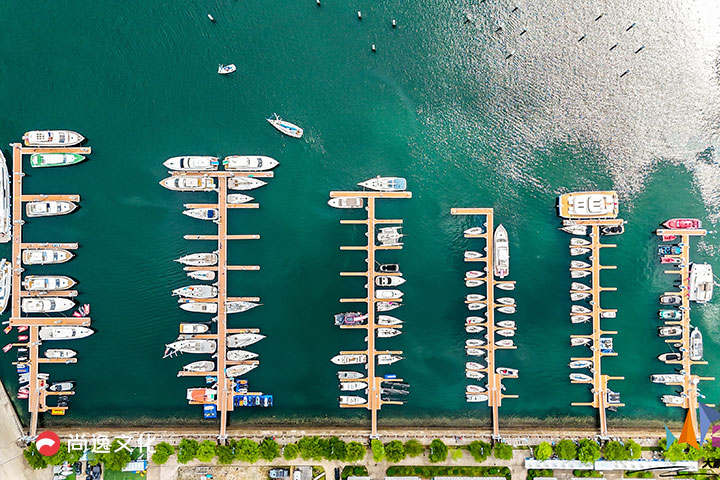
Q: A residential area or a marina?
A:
marina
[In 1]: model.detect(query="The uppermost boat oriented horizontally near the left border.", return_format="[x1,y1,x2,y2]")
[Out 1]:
[23,131,84,147]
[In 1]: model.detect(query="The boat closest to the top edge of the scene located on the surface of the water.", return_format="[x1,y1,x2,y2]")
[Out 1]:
[217,61,236,74]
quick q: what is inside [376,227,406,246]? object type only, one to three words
boat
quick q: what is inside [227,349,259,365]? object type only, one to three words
boat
